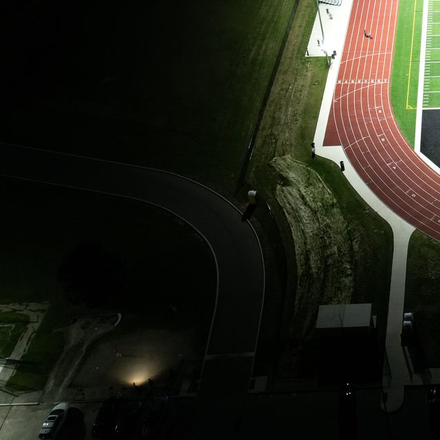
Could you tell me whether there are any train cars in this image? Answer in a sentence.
No, the frame has no train car in it.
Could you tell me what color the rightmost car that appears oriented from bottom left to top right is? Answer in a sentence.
The rightmost car that appears oriented from bottom left to top right is black.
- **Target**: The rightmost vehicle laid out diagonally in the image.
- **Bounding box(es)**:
[130,391,172,436]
